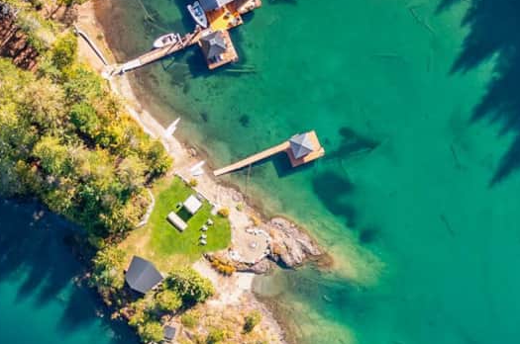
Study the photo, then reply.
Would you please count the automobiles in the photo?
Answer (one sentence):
The count of automobiles is 0.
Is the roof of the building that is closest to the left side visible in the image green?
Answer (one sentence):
No, the color of the roof of the building that is closest to the left side is gray.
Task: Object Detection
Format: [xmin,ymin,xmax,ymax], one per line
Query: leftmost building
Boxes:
[127,255,166,296]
